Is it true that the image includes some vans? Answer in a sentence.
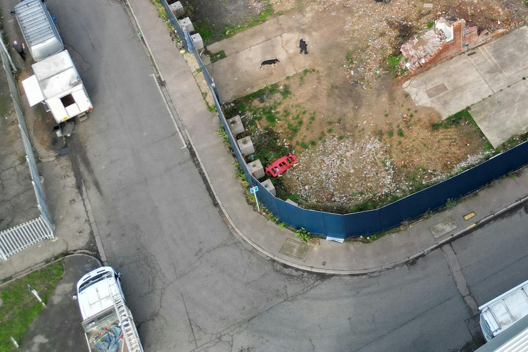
Yes, a van appears in the view.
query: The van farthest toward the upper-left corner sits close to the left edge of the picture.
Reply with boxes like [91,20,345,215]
[16,5,67,64]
